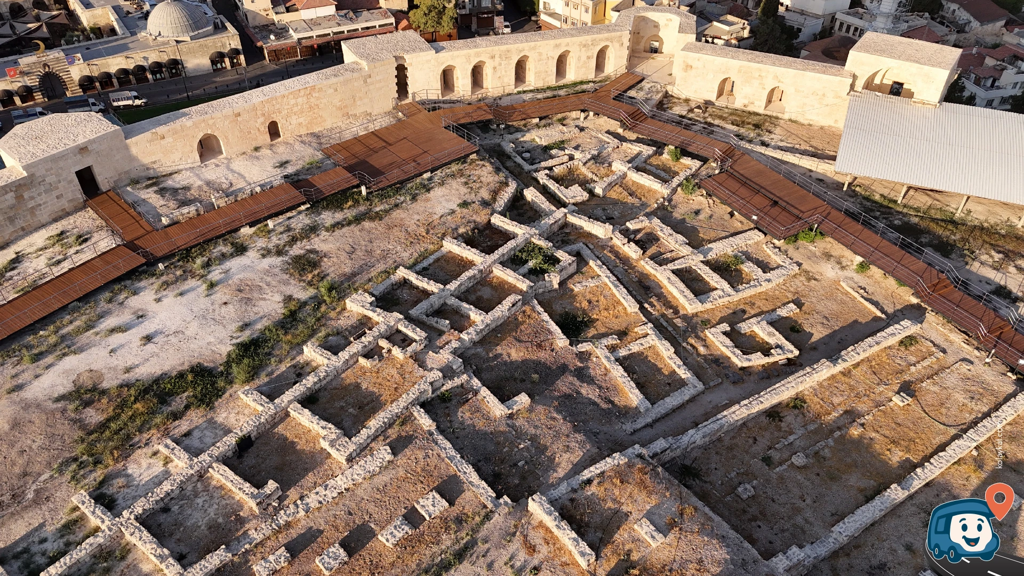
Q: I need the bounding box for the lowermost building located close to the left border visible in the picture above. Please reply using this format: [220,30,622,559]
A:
[0,112,138,222]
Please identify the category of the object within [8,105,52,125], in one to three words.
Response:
vehicle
